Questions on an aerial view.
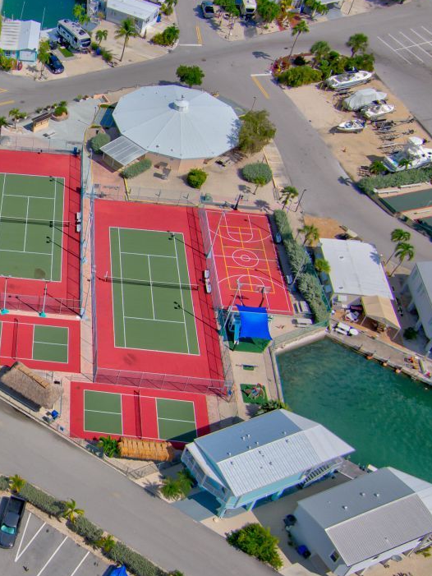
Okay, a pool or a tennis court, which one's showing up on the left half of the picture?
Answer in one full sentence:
The feature located on the left half of the picture is a tennis court.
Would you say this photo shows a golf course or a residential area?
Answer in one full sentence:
The area seen from above is a residential area.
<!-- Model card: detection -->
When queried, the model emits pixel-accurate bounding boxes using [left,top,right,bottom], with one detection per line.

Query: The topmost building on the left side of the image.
[107,0,160,34]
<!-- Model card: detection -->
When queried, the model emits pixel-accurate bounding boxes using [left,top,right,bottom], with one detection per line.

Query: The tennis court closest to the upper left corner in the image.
[0,149,81,314]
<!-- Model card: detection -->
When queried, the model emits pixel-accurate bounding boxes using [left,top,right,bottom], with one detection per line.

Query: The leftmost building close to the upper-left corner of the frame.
[0,18,40,68]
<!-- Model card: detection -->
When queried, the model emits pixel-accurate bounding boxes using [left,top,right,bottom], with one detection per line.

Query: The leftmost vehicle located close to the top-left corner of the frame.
[47,53,63,72]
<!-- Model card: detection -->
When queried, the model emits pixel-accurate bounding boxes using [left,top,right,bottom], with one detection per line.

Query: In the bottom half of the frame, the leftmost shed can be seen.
[0,359,66,414]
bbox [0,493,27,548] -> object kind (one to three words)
vehicle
